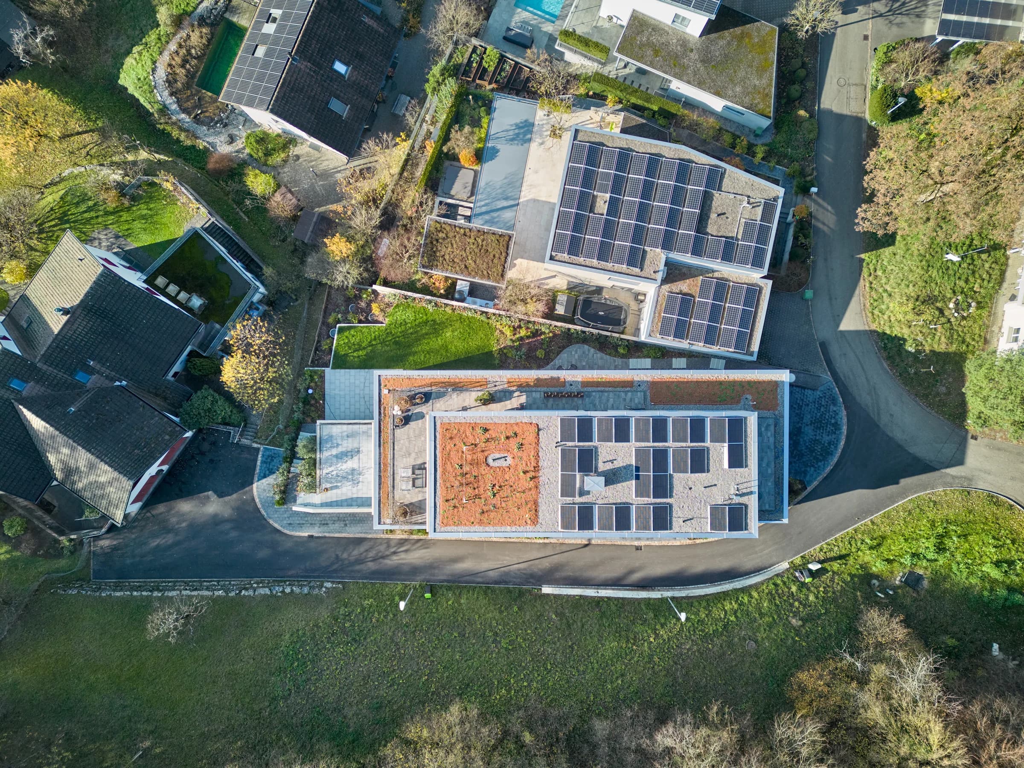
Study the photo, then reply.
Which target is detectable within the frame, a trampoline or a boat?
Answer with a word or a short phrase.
trampoline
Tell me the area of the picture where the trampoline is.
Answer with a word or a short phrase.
center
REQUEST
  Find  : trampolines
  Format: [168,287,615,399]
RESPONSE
[572,290,634,333]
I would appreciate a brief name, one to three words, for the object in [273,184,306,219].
shed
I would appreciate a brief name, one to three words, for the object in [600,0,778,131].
house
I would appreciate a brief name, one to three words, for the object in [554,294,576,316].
shed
